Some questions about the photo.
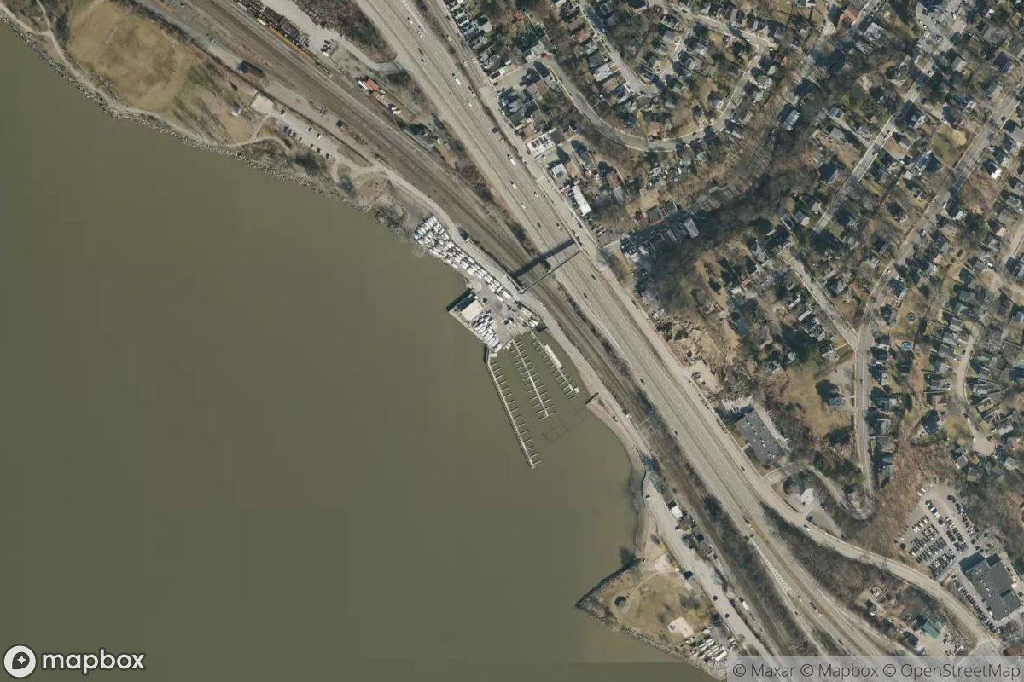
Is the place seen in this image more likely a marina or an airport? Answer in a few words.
marina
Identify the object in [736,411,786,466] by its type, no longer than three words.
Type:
building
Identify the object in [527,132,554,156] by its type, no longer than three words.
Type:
building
